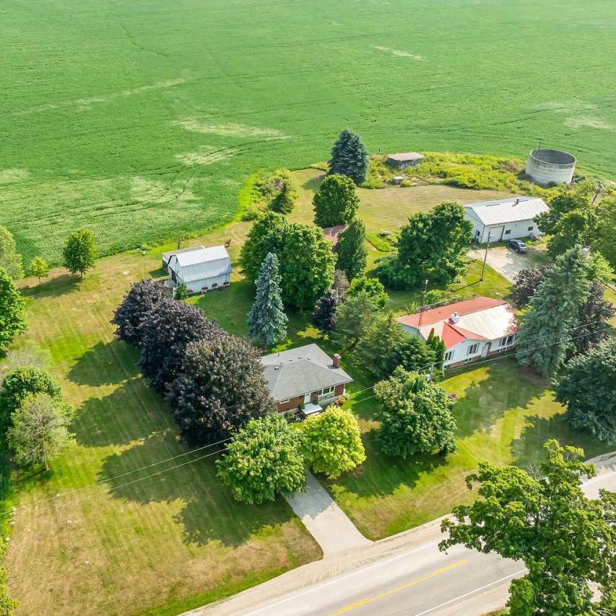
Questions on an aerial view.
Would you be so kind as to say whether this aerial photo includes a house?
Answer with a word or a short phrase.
Yes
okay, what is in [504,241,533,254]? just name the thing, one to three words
vehicle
